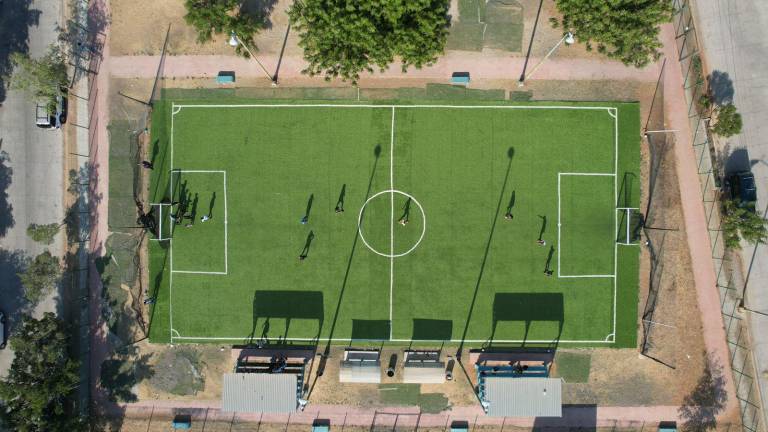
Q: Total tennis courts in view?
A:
none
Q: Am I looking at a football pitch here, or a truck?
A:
football pitch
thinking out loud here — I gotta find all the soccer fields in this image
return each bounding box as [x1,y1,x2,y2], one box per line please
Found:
[148,100,640,349]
